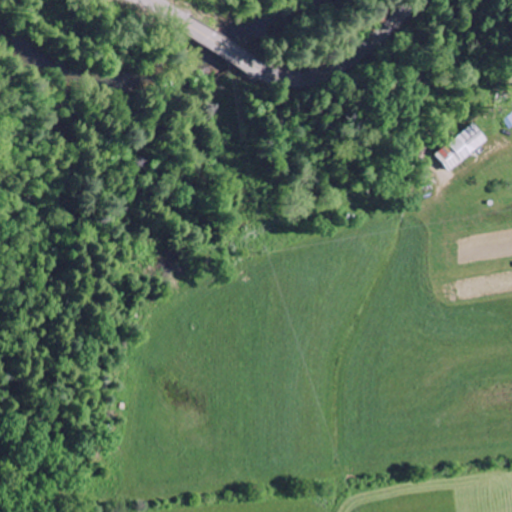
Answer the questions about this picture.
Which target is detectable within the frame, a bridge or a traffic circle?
bridge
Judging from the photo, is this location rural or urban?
rural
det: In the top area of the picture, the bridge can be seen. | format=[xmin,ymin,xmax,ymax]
[186,18,263,76]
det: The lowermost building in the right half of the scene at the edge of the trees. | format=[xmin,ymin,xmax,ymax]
[436,122,488,171]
